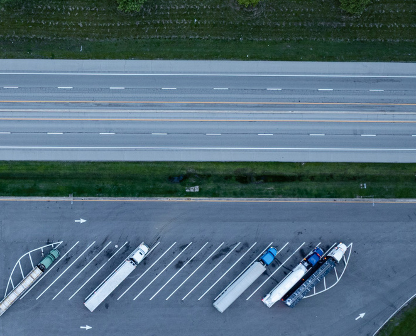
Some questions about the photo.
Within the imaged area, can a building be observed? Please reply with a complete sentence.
No, I find no building anywhere in the image.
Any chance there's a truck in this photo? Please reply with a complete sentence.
Yes, the image includes a truck.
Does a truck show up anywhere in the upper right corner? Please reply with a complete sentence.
No, in the upper right corner there is no truck.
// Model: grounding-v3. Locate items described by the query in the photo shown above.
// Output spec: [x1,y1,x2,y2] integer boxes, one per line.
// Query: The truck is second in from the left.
[84,242,148,311]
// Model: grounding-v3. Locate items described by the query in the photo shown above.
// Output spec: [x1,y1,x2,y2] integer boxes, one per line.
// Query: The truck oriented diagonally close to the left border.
[0,248,60,316]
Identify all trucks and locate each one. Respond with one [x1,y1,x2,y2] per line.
[282,242,345,308]
[211,246,276,312]
[0,248,60,316]
[84,242,148,311]
[262,245,323,308]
